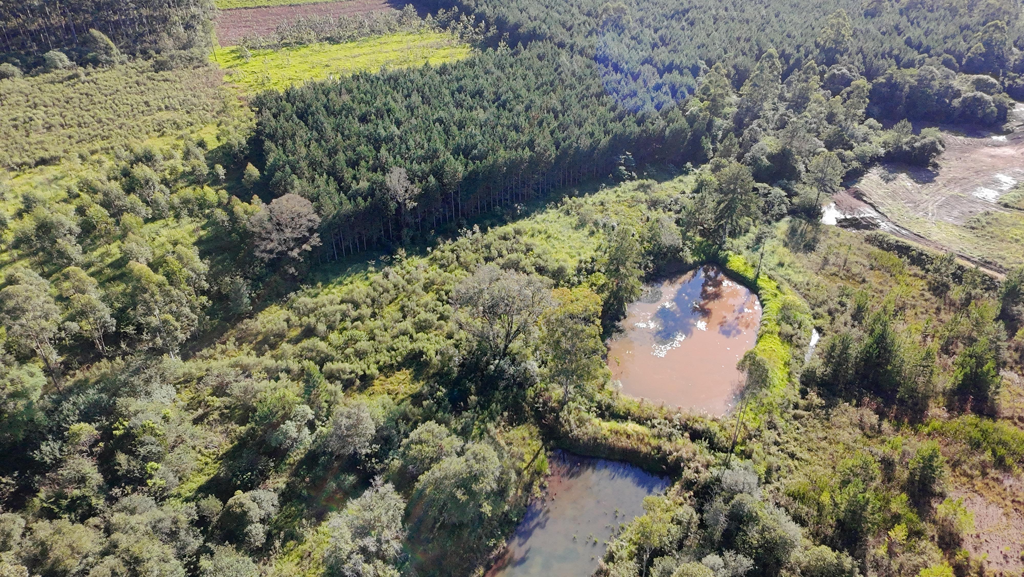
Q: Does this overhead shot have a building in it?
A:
No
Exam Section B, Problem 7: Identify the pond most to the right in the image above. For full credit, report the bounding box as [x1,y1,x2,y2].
[607,265,761,418]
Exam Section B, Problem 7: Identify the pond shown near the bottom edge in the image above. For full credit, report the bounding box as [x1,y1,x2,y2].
[486,451,673,577]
